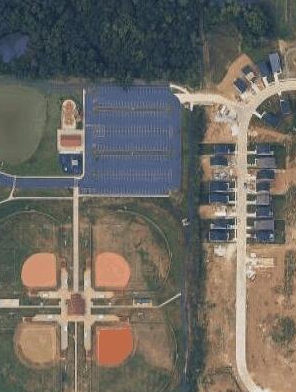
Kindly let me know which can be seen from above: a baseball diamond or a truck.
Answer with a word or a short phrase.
baseball diamond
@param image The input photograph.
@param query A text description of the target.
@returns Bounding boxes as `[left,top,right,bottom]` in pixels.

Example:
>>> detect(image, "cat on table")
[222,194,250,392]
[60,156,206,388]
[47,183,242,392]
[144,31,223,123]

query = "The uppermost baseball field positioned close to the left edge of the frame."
[0,203,63,293]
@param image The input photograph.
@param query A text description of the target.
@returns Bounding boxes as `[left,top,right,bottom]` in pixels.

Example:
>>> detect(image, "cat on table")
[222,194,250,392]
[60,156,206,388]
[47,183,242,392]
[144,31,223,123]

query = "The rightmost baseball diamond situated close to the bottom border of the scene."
[90,321,177,392]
